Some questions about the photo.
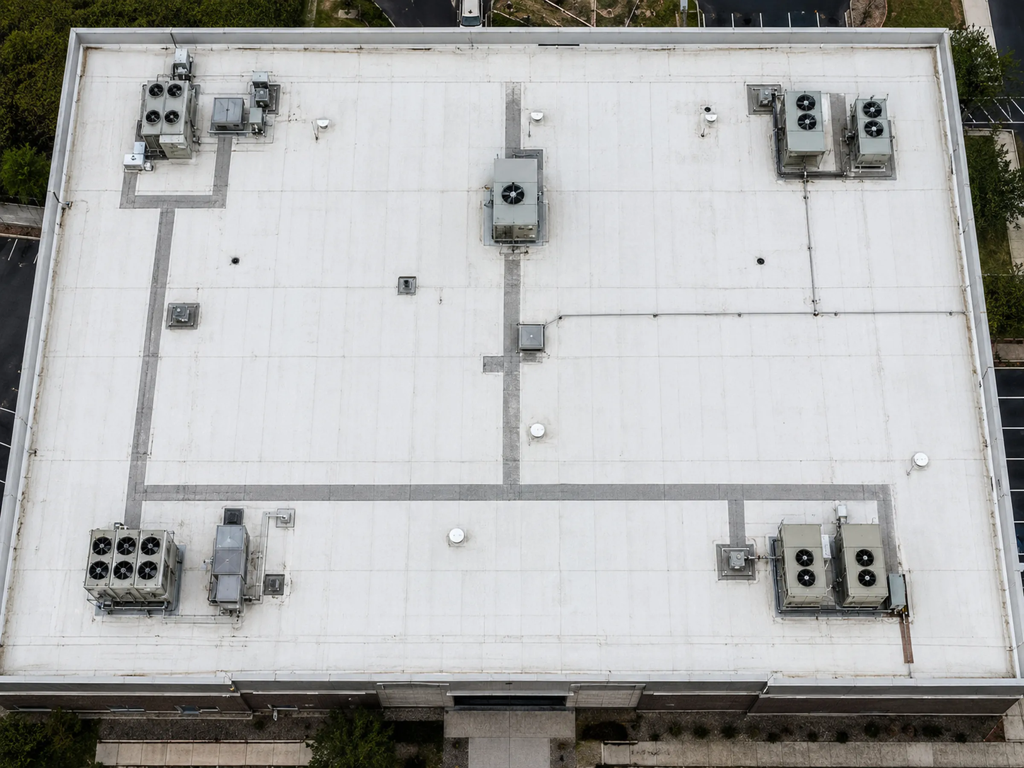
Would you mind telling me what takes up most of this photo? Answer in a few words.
buildings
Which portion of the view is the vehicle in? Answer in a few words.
top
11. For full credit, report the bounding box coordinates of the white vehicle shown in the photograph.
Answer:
[458,0,484,27]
